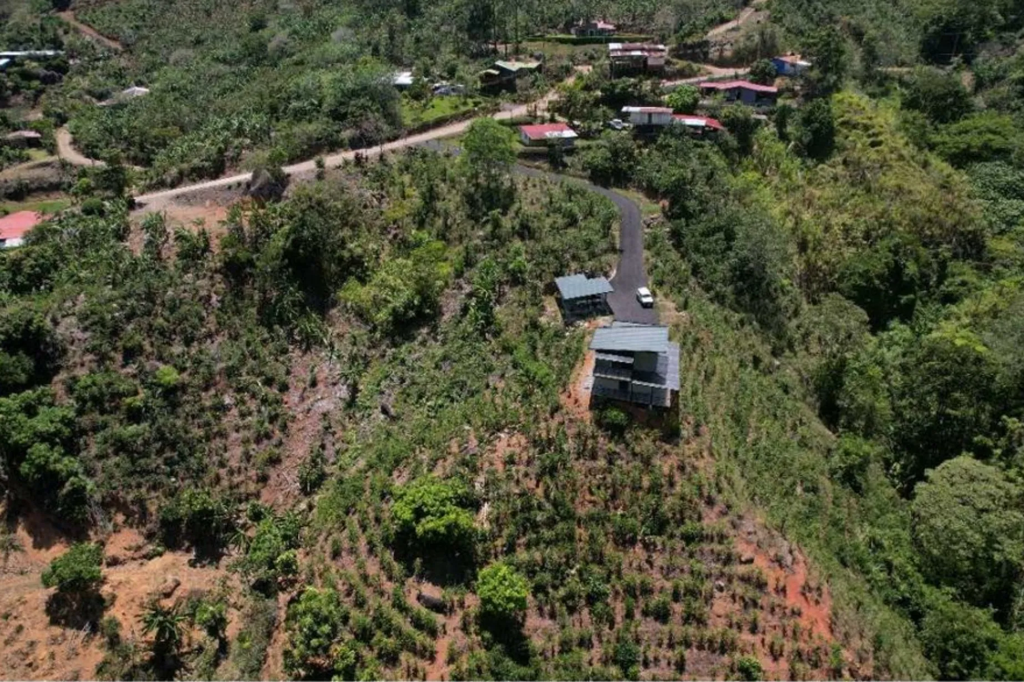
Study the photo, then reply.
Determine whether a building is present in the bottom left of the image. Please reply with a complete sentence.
No, I see no building in the bottom left of the image.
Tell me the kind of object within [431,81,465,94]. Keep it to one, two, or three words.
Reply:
shed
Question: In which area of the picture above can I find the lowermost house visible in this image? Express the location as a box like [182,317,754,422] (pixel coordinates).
[584,324,683,427]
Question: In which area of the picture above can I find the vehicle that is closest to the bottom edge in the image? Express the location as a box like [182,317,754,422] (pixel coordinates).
[636,285,653,304]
